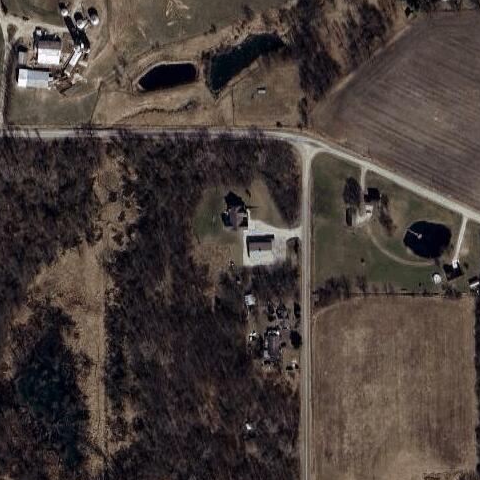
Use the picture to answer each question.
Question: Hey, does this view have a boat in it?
No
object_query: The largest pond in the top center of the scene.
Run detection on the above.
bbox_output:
[210,33,285,94]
